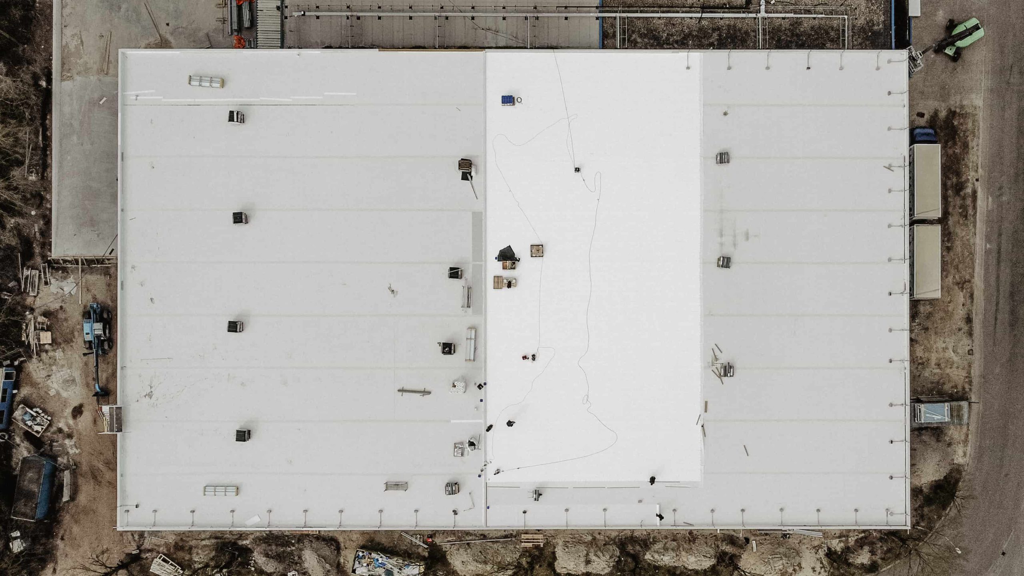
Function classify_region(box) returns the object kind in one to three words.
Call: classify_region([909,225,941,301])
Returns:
trailer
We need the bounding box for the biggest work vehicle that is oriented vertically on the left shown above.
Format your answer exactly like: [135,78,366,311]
[80,302,114,405]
